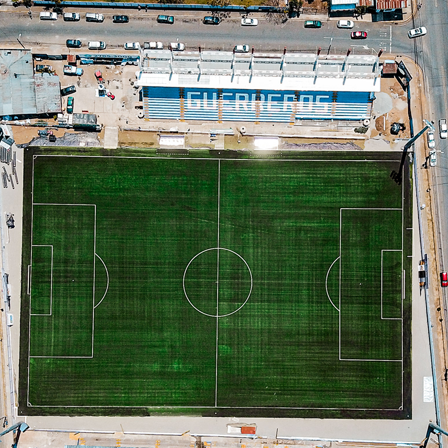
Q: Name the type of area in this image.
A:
sports ground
